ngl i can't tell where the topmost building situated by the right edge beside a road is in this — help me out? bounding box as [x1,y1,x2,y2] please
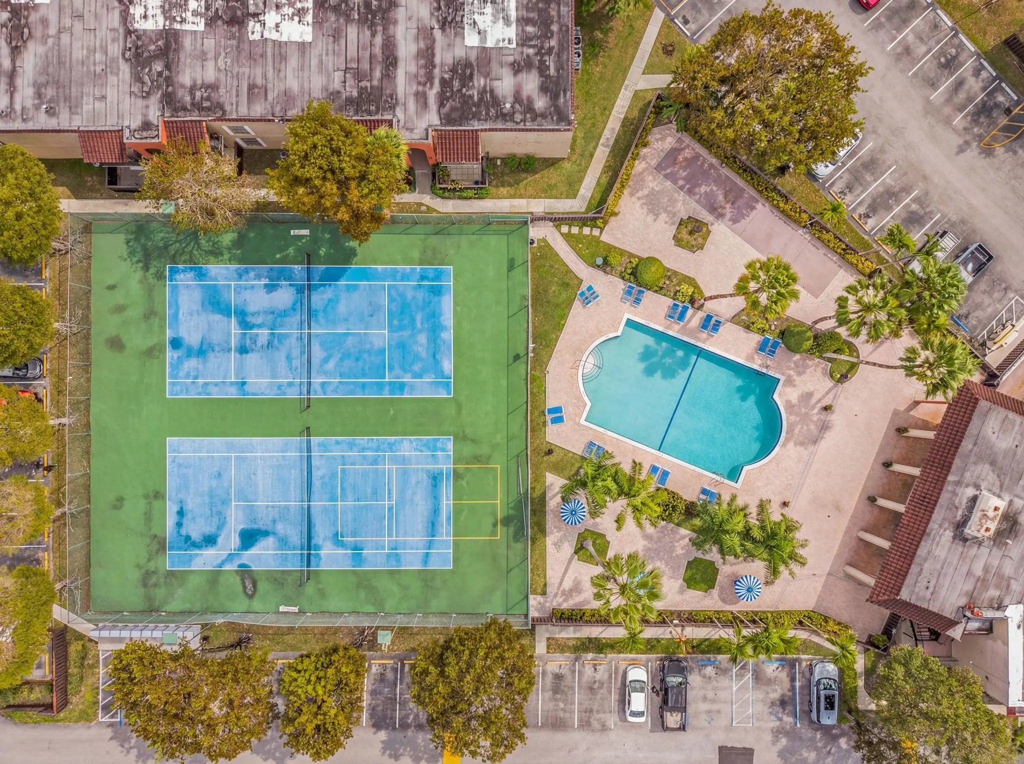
[842,381,1024,641]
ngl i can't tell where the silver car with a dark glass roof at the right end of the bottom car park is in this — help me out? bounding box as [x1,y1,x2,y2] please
[813,664,845,727]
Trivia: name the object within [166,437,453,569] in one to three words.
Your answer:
tennis court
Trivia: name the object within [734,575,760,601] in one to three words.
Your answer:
umbrella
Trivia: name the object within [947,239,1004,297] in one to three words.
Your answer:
truck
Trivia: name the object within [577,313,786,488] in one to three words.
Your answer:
swimming pool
